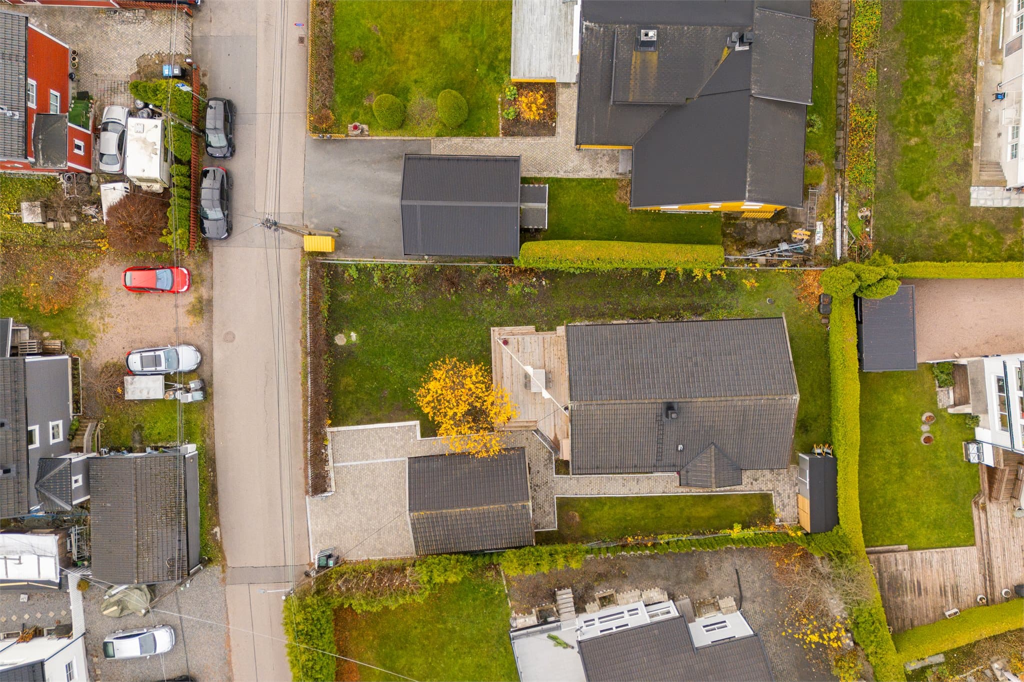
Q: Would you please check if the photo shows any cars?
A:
Yes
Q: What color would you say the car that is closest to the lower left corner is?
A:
white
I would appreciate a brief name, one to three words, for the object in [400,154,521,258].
building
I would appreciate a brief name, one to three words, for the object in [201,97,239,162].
car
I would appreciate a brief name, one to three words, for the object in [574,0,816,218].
house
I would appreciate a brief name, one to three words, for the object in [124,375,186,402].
trailer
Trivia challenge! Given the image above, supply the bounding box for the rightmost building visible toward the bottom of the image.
[962,351,1024,468]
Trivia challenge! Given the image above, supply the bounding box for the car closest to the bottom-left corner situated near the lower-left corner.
[101,620,179,662]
